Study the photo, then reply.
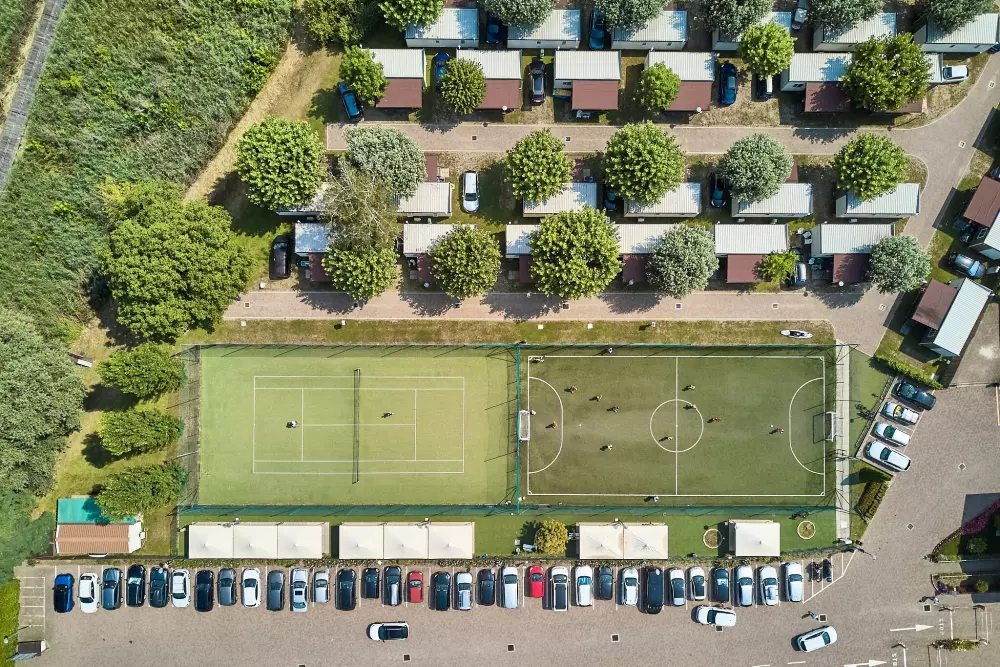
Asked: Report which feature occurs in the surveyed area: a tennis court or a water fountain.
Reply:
tennis court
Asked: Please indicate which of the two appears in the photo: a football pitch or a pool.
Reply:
football pitch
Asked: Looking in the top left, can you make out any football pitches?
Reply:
No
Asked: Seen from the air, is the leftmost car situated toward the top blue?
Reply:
No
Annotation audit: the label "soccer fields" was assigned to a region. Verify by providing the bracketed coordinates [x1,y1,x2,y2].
[518,345,836,506]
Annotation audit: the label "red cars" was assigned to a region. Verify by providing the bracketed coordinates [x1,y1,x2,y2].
[407,570,425,603]
[528,564,546,598]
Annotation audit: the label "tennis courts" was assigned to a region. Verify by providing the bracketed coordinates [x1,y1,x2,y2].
[199,345,518,506]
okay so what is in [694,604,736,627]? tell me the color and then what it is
white car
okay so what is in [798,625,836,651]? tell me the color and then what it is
white car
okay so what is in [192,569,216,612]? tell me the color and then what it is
black car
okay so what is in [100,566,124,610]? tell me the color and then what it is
blue car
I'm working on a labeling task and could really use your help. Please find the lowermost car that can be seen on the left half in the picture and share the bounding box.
[369,621,408,643]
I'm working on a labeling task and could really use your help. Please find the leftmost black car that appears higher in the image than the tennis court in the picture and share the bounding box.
[270,235,292,278]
